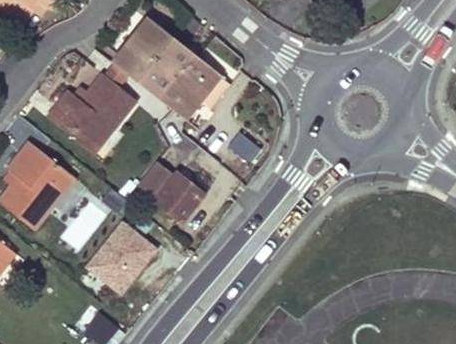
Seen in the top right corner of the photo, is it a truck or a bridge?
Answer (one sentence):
It is a truck that can be seen in the top right corner of the photo.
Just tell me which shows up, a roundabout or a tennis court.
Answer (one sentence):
Looking from above, you can make out a roundabout.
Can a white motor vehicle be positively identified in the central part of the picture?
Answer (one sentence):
Yes, looking in the central part of the picture, one can make out a white motor vehicle.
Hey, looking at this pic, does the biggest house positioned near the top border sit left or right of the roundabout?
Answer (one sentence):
The biggest house positioned near the top border appears to the left of the roundabout in this view.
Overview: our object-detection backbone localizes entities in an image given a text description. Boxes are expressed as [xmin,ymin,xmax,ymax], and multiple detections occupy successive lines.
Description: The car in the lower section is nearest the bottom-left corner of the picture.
[208,303,226,323]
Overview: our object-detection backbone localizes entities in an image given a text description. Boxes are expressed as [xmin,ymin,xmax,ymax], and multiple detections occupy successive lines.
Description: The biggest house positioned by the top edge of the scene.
[111,15,222,121]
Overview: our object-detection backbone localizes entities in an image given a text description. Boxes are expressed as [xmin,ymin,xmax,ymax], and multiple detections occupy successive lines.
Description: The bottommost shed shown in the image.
[84,311,120,344]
